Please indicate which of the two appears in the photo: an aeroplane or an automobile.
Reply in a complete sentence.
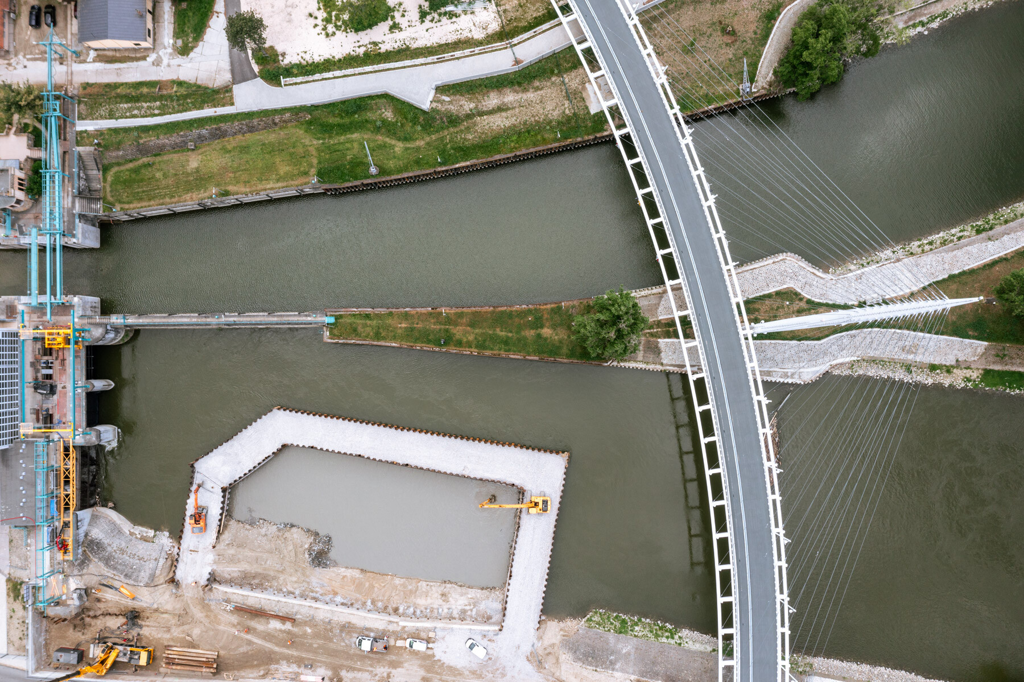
The image shows an automobile.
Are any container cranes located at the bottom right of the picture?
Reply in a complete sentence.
No, no container crane appears at the bottom right of the picture.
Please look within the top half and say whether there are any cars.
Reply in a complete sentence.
Yes, a car is visible within the top half.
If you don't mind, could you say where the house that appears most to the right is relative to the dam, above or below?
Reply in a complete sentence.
Looking at the scene, the house that appears most to the right is located above the dam.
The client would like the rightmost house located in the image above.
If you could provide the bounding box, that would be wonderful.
[72,0,153,49]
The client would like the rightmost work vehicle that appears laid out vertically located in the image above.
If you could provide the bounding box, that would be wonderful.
[185,486,205,537]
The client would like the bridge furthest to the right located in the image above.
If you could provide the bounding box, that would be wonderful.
[553,0,985,682]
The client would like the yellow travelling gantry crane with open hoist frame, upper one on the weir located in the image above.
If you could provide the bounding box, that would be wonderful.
[17,323,83,348]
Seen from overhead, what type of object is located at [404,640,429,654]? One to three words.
vehicle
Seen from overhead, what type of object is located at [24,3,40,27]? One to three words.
car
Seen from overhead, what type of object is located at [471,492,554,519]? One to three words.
work vehicle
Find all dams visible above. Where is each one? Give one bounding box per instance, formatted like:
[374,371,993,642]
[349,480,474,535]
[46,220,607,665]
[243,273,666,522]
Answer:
[0,296,139,512]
